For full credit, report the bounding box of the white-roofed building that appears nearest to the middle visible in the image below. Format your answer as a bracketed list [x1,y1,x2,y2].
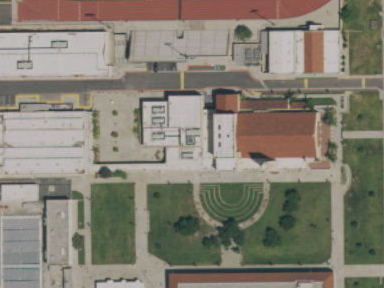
[143,96,210,164]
